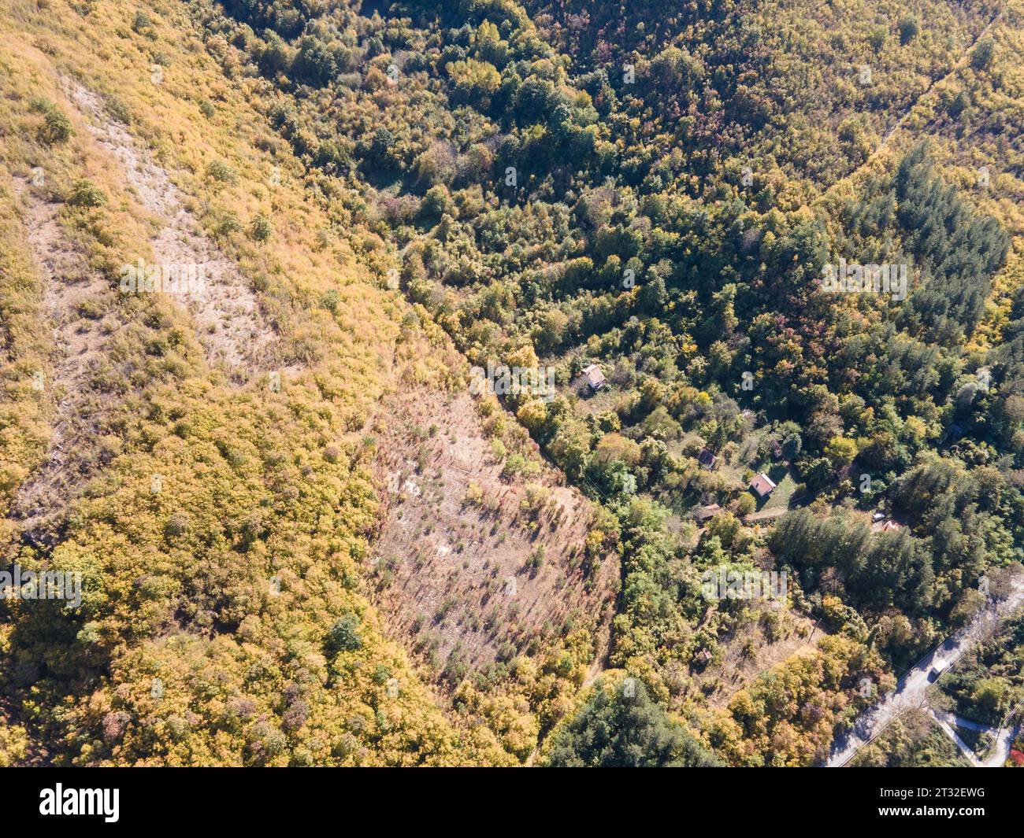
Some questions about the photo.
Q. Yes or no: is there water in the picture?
No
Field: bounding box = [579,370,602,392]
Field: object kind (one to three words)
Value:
house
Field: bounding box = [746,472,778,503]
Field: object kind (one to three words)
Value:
house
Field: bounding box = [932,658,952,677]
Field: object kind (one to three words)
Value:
vehicle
